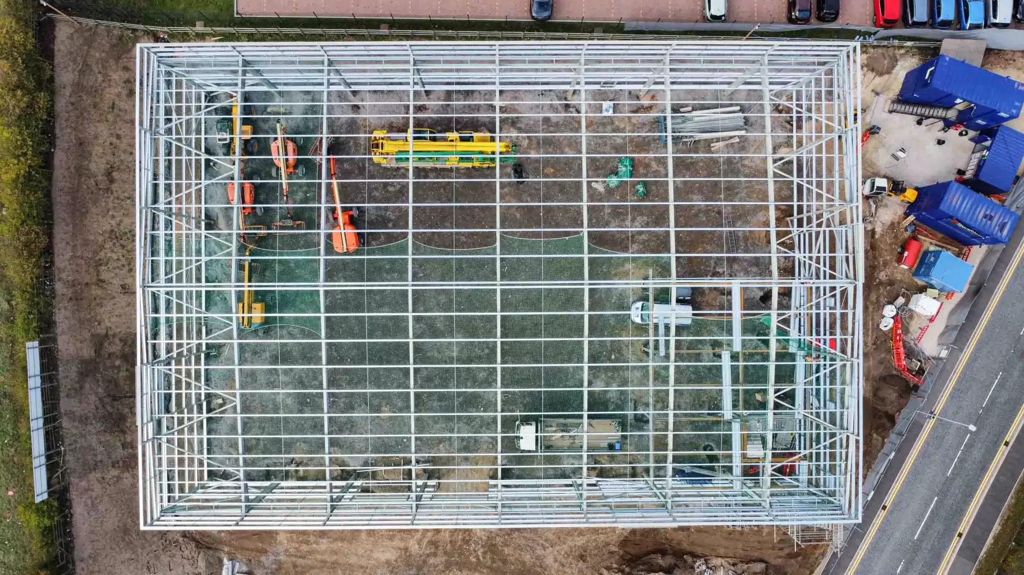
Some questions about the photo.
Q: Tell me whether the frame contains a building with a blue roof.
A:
Yes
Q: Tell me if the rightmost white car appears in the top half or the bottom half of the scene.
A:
top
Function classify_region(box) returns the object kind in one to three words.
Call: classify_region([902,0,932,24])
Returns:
car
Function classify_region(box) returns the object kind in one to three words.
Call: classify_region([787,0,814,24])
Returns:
car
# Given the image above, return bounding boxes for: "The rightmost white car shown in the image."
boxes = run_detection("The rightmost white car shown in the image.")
[986,0,1017,27]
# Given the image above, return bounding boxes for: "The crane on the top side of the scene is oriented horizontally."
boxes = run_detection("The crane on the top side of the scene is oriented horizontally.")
[369,128,519,169]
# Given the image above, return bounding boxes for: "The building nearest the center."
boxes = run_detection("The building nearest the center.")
[135,41,865,530]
